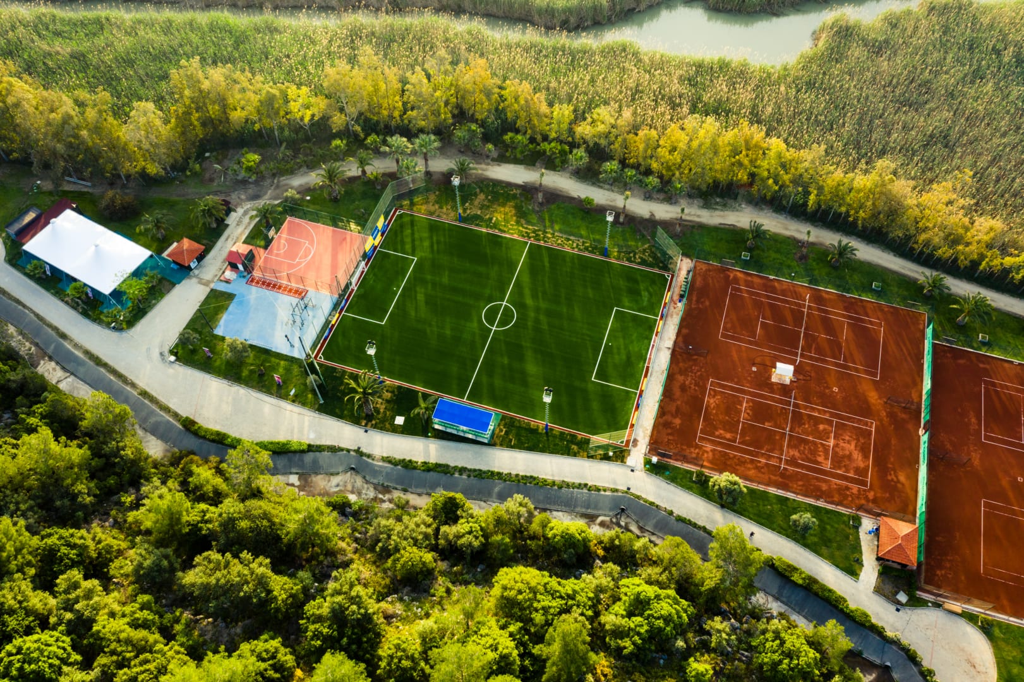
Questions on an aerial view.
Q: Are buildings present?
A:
Yes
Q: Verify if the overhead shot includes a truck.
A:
No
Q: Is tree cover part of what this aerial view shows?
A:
Yes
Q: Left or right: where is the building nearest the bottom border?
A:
right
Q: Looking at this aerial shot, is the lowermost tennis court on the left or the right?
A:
right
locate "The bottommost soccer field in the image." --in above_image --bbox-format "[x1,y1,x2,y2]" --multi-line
[306,204,680,452]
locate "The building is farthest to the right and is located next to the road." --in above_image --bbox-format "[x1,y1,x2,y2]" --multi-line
[872,516,919,570]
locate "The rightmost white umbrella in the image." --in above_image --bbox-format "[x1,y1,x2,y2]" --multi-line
[221,267,236,282]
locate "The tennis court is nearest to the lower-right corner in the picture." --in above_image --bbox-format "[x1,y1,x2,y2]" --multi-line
[922,457,1024,623]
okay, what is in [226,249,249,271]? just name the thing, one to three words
shed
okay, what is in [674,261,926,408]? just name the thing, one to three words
tennis court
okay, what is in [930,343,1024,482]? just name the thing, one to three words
tennis court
